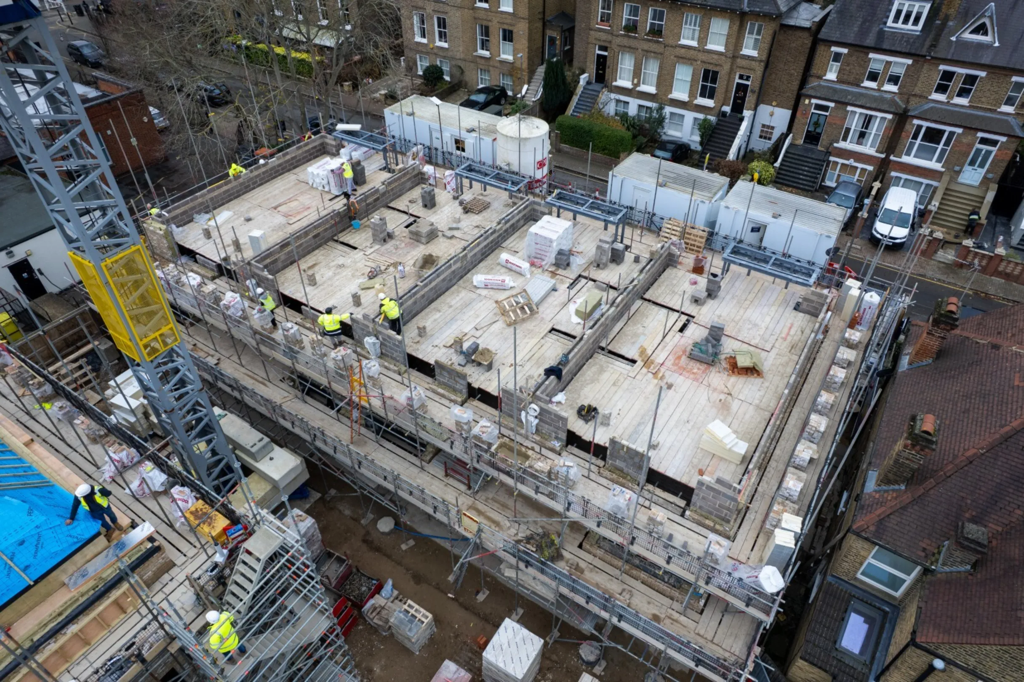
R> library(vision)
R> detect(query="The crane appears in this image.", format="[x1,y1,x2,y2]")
[0,0,241,497]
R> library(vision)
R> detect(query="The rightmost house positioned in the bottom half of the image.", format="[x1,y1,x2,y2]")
[773,296,1024,682]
